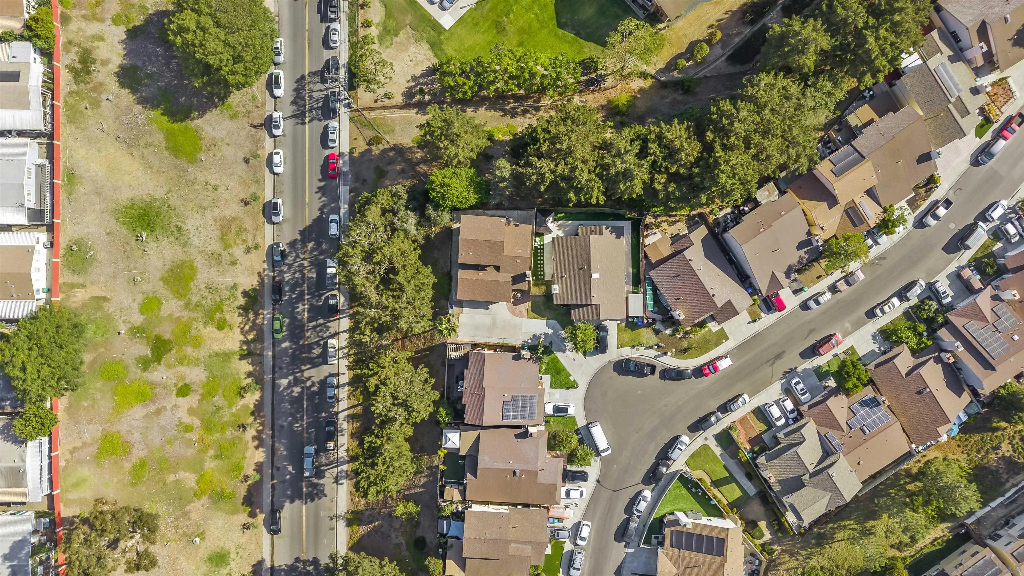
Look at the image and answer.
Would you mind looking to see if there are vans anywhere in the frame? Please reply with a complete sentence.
Yes, a van is visible in the scene.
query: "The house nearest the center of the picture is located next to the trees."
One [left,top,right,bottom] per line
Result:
[457,215,532,302]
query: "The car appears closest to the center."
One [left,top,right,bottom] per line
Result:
[597,324,611,354]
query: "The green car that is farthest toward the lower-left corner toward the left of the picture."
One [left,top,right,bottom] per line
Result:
[272,313,285,340]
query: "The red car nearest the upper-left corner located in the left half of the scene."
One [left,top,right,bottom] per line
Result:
[327,153,340,179]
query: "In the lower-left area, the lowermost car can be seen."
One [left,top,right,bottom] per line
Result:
[269,508,282,536]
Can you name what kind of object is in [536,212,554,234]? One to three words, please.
gazebo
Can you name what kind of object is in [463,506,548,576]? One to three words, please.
house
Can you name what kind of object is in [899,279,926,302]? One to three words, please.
car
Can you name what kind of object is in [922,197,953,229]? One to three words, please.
truck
